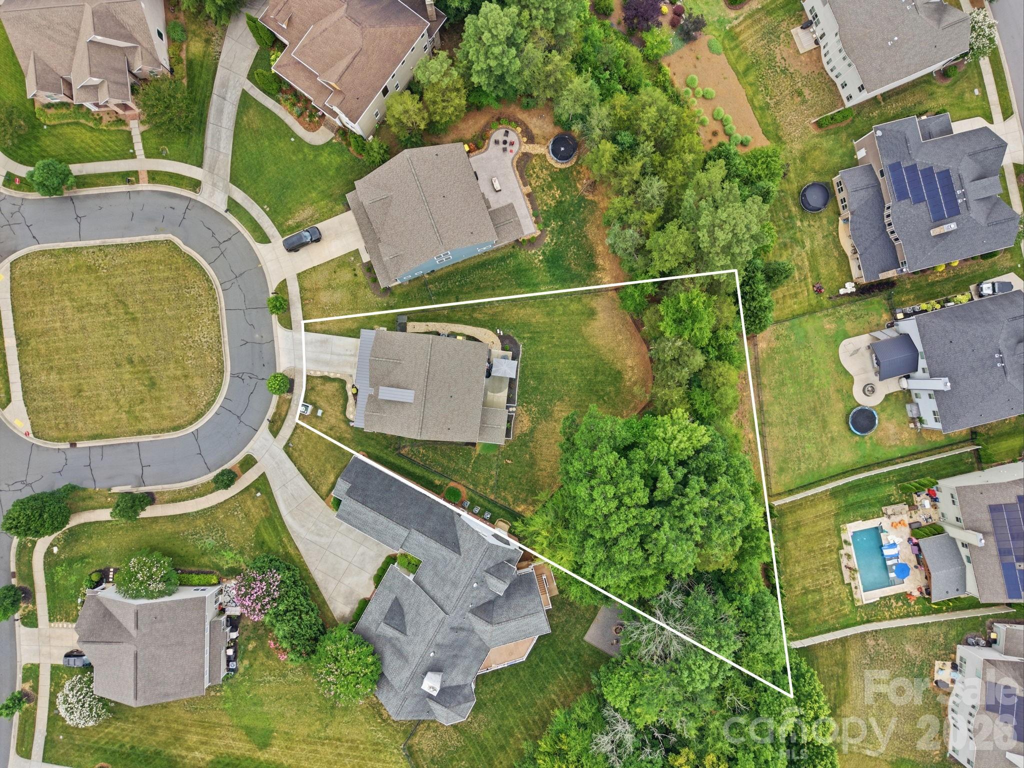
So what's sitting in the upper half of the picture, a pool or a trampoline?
trampoline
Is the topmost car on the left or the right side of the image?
left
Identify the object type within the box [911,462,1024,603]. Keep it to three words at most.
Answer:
building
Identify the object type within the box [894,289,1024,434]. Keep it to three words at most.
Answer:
house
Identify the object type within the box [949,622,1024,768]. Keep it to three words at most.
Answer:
house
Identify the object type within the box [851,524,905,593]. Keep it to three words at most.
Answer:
swimming pool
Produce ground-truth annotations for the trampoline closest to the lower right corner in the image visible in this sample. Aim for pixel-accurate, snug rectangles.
[852,406,881,436]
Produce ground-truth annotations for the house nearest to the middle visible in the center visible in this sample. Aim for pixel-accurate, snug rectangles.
[353,329,509,445]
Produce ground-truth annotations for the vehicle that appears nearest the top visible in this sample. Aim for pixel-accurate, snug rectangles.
[279,226,321,253]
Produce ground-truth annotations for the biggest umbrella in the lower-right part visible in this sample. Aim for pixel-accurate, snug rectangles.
[892,562,911,579]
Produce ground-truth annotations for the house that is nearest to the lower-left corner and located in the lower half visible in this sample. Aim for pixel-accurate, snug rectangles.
[74,582,234,708]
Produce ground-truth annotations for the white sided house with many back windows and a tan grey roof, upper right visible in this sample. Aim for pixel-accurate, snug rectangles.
[801,0,971,108]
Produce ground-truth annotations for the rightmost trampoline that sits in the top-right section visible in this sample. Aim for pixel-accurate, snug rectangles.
[803,179,838,212]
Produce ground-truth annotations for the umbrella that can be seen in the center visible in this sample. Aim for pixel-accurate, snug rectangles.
[491,358,517,379]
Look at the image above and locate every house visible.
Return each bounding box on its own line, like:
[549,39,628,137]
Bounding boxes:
[894,289,1024,434]
[801,0,971,108]
[74,582,234,708]
[831,112,1020,284]
[257,0,444,137]
[346,142,525,289]
[332,455,560,726]
[0,0,181,122]
[949,622,1024,768]
[353,329,509,445]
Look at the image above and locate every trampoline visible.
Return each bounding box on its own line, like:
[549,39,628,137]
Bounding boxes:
[803,179,838,212]
[852,406,881,436]
[548,131,578,163]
